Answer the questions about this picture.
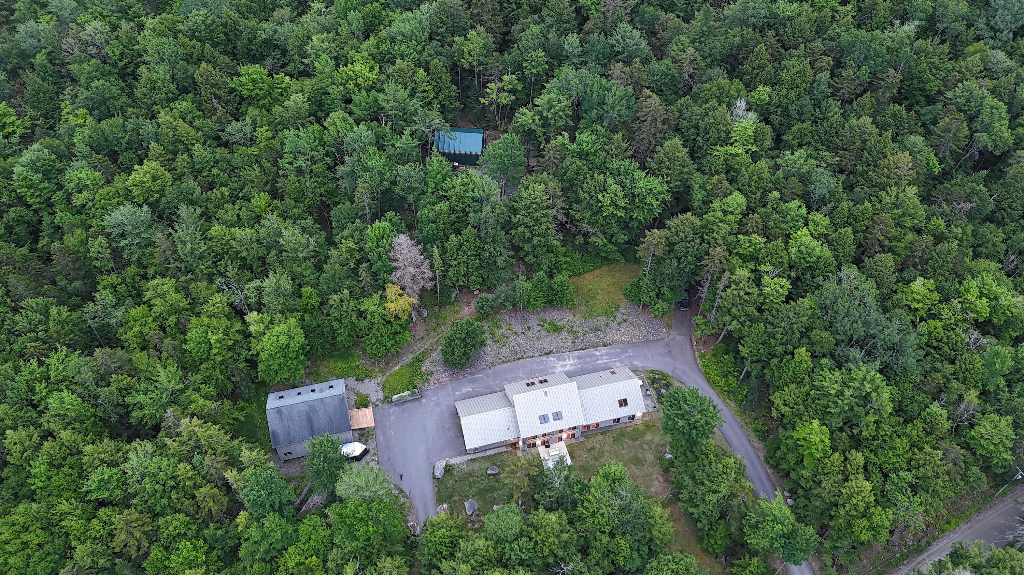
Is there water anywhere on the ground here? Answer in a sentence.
No, the scene doesn't show any water.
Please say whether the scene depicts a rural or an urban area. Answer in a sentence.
This place is rural.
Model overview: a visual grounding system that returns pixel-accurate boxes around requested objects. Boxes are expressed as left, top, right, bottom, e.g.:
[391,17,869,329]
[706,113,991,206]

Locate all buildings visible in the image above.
[431,127,486,164]
[266,379,353,461]
[455,366,645,455]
